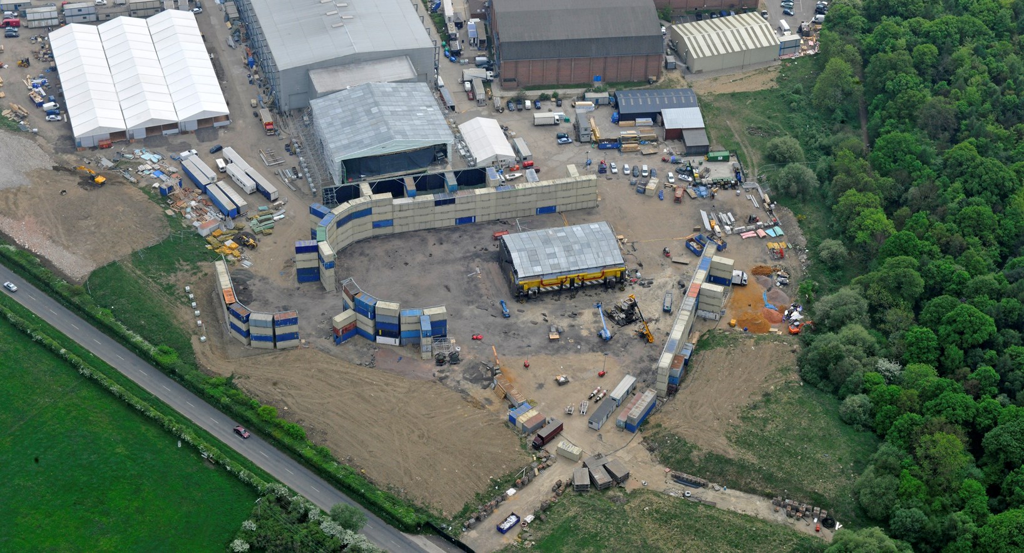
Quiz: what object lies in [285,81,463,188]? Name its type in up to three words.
shed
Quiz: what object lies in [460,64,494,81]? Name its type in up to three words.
vehicle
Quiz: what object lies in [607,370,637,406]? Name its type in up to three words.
building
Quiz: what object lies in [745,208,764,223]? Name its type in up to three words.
work vehicle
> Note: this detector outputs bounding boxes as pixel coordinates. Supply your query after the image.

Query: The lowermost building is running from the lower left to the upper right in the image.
[588,395,617,429]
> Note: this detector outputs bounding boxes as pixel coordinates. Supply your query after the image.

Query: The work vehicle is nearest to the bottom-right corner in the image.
[787,313,819,332]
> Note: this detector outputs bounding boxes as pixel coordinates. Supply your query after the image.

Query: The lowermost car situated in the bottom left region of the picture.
[233,425,250,437]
